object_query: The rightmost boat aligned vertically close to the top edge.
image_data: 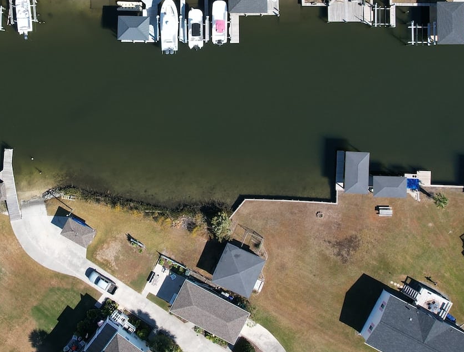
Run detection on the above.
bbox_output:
[212,0,227,49]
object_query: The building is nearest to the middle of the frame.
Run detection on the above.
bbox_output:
[212,241,266,299]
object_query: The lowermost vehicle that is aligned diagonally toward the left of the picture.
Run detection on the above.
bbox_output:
[86,266,120,296]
